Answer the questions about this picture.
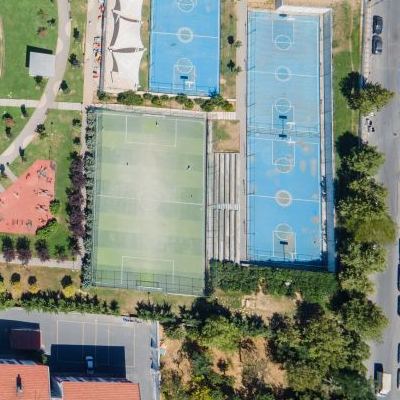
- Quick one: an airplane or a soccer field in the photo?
soccer field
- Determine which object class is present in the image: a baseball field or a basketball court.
basketball court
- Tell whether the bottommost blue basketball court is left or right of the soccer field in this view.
to its right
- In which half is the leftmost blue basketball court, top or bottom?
top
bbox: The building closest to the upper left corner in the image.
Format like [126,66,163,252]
[28,52,56,78]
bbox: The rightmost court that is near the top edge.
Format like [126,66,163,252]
[248,11,322,136]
